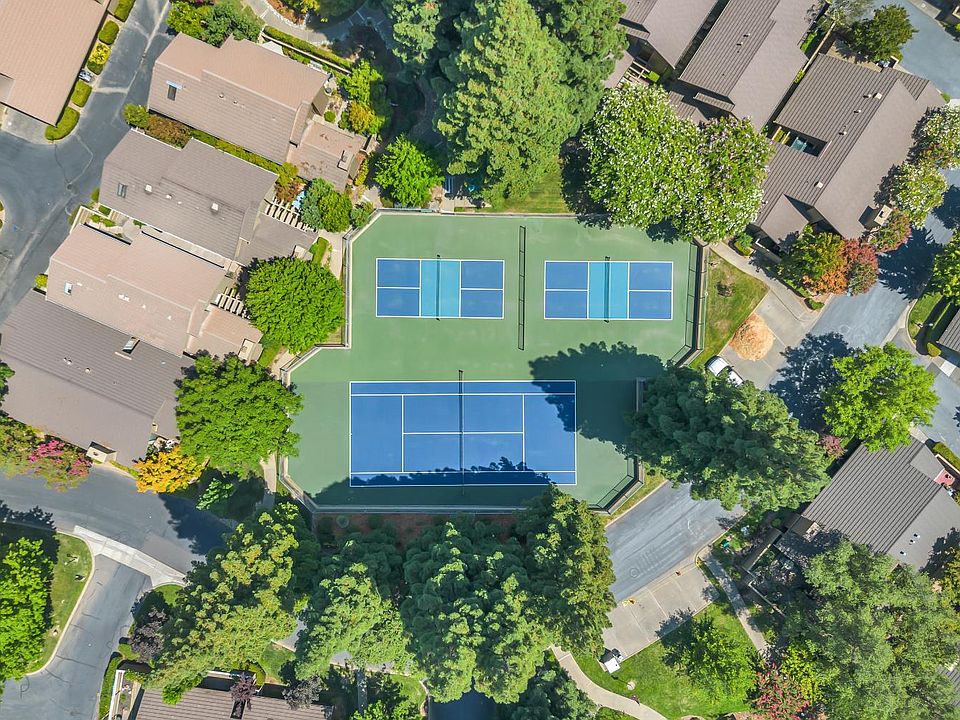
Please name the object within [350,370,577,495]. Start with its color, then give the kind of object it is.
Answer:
blue tennis court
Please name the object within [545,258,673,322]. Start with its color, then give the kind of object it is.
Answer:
blue sports court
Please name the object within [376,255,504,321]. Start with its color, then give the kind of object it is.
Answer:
blue sports court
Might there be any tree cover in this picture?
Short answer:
Yes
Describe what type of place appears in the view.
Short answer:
residential area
